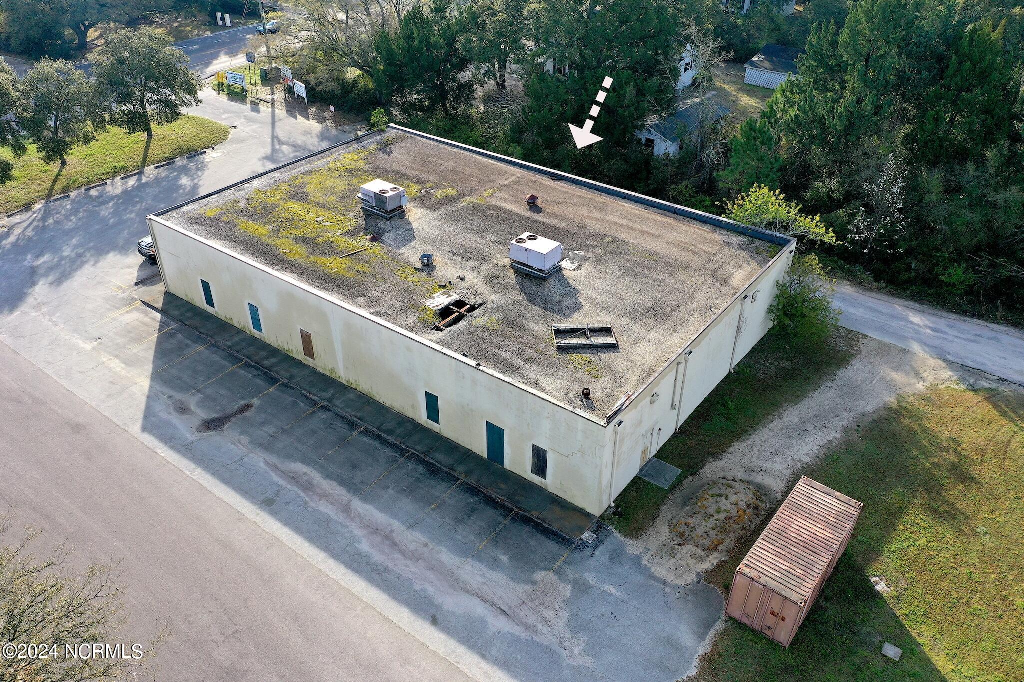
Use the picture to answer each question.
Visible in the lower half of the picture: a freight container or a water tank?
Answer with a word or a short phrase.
freight container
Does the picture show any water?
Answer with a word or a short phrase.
No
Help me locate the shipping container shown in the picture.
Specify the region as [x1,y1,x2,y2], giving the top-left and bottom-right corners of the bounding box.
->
[726,477,863,649]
